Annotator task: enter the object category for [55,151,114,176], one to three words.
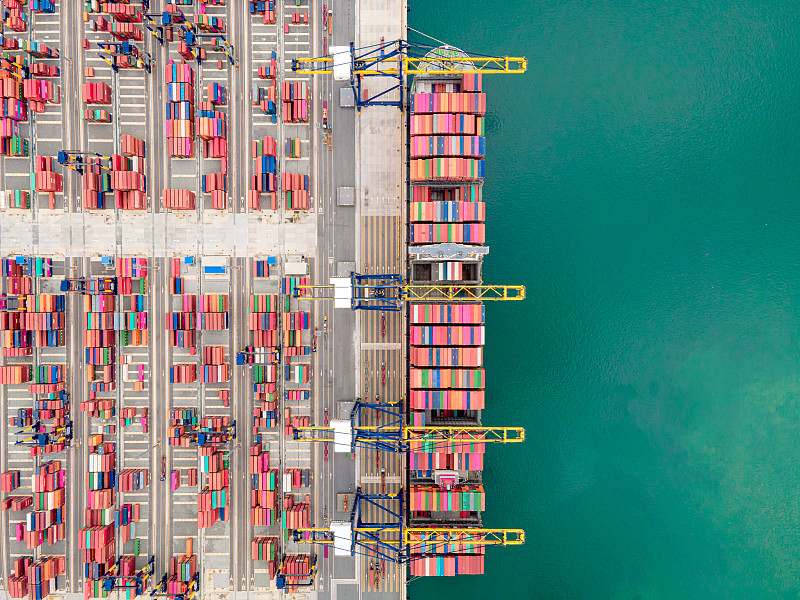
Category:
crane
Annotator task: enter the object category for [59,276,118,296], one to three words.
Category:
crane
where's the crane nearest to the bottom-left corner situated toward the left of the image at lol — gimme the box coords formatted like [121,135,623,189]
[102,552,155,587]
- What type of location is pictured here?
port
